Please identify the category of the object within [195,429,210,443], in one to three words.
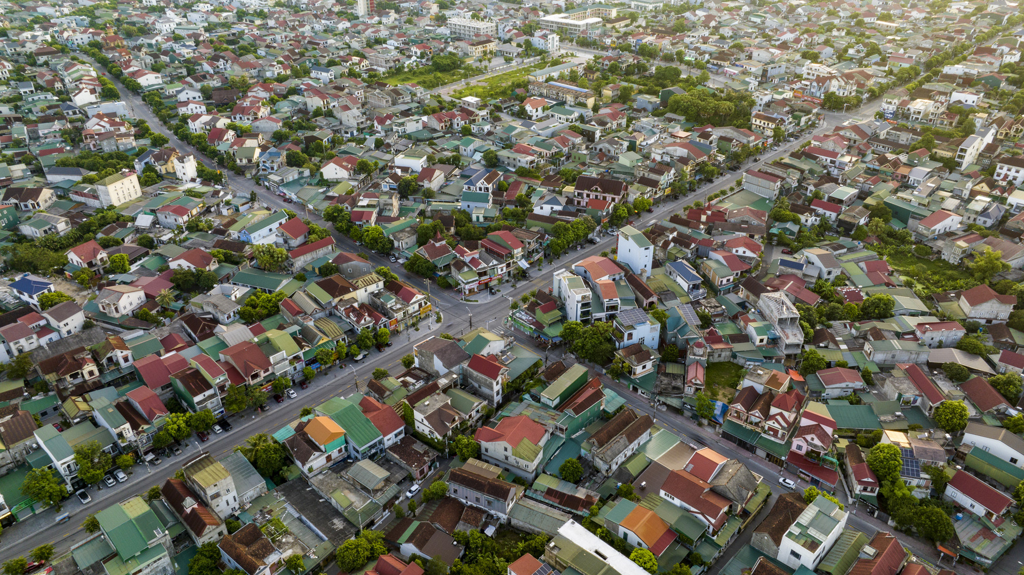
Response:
car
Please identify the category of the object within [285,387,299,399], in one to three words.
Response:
vehicle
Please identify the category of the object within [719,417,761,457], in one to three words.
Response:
shed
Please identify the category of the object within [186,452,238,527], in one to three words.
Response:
house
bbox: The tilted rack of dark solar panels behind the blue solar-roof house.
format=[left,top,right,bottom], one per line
[616,308,649,326]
